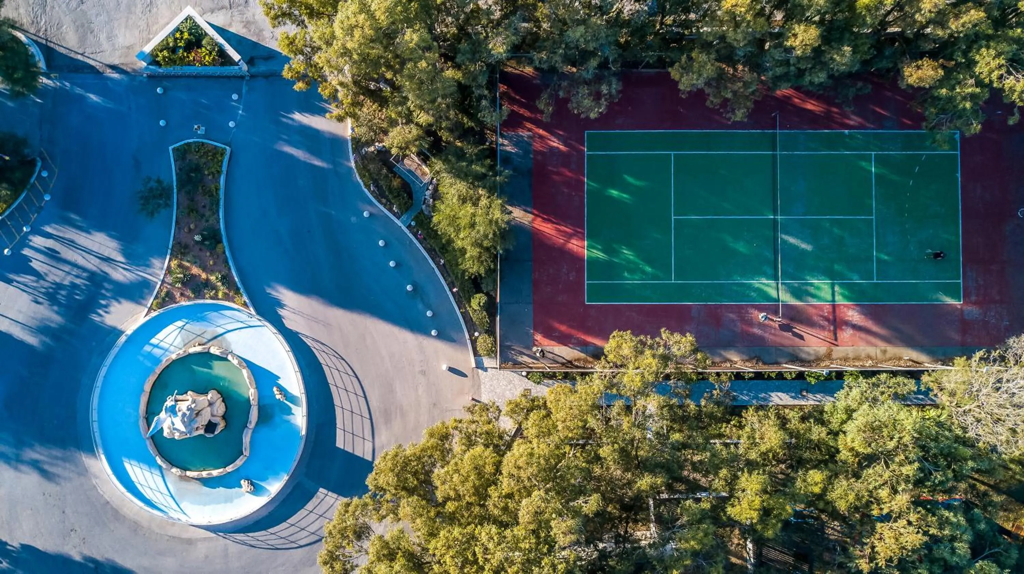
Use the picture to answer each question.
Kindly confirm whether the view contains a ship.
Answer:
No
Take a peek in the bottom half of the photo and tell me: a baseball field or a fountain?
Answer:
fountain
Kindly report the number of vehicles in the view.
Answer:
0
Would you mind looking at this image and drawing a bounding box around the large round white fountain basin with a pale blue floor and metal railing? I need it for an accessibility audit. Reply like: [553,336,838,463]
[86,297,321,533]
